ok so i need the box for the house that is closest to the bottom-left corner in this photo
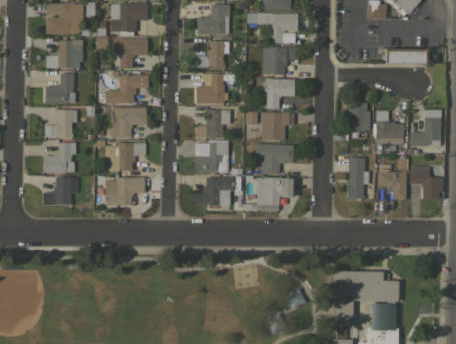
[43,177,80,205]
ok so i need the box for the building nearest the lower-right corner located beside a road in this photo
[333,271,400,344]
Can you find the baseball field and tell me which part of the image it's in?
bottom left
